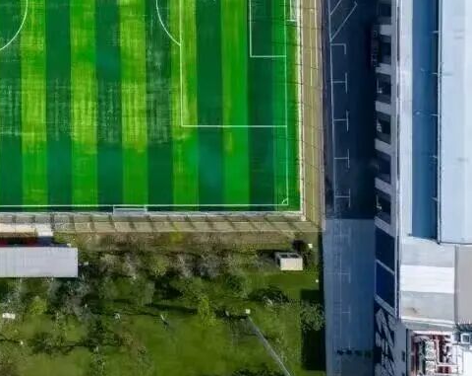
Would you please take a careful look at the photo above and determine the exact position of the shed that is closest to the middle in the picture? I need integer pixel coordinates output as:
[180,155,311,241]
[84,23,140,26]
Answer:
[272,248,303,269]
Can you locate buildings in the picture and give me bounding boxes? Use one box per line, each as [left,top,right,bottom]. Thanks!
[0,241,78,277]
[272,248,303,269]
[372,0,472,323]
